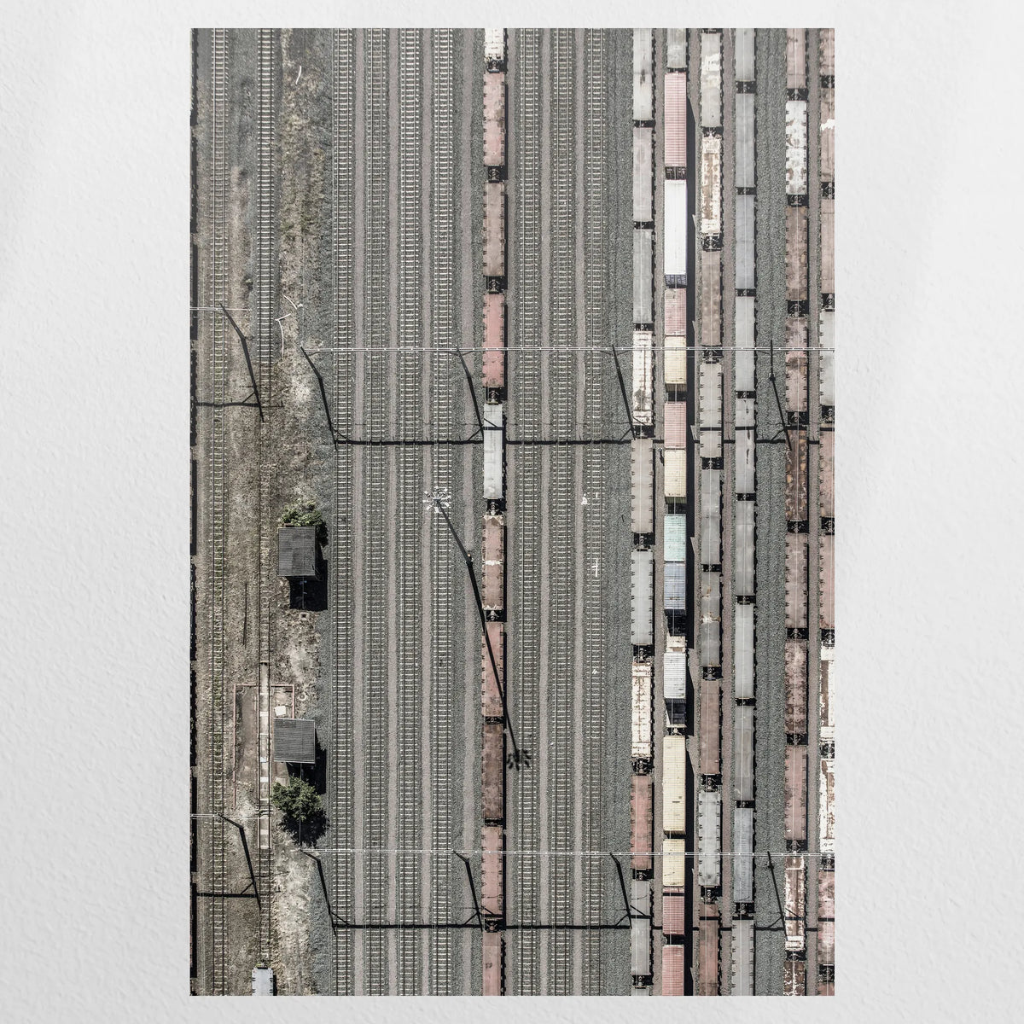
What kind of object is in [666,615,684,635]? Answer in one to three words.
rail car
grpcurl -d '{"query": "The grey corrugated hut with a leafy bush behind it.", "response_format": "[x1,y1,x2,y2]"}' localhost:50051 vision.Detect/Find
[278,527,319,581]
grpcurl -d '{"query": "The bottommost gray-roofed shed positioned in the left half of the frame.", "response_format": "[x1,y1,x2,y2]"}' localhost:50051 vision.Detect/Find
[273,718,319,765]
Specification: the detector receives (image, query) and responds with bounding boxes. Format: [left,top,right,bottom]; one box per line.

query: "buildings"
[278,527,319,581]
[273,718,319,765]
